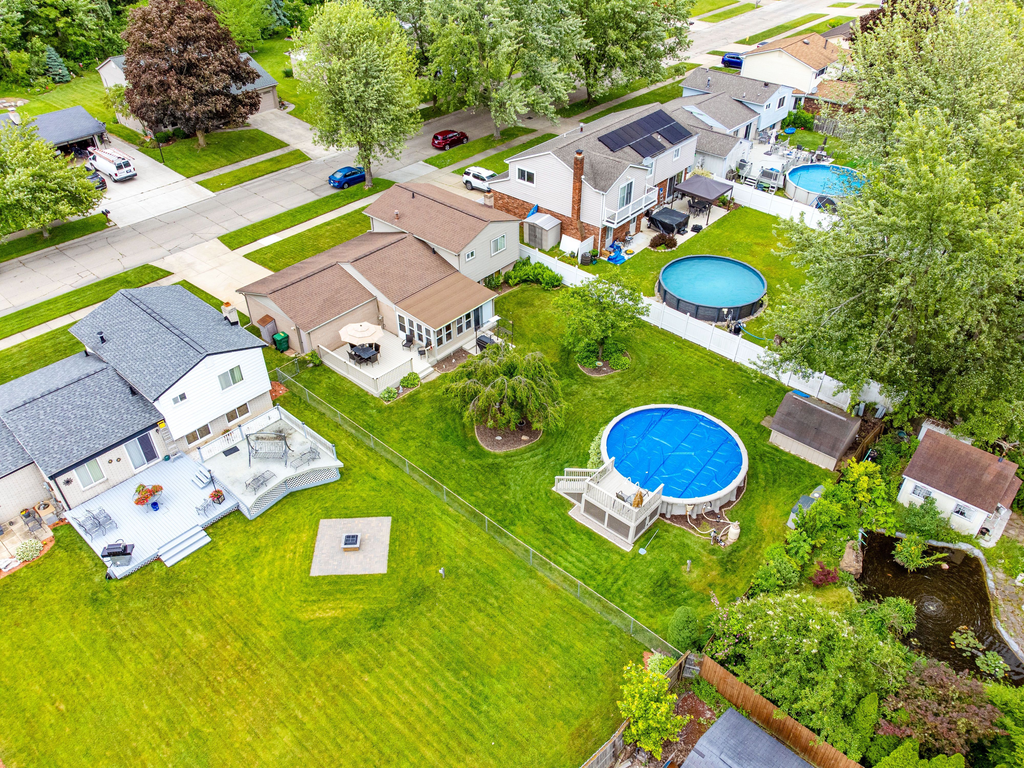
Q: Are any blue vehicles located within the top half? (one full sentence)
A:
Yes, the scene does show a blue vehicle within the top half.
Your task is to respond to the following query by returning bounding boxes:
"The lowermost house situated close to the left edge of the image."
[0,285,275,523]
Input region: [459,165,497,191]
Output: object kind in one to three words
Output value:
car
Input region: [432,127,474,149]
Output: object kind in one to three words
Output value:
car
